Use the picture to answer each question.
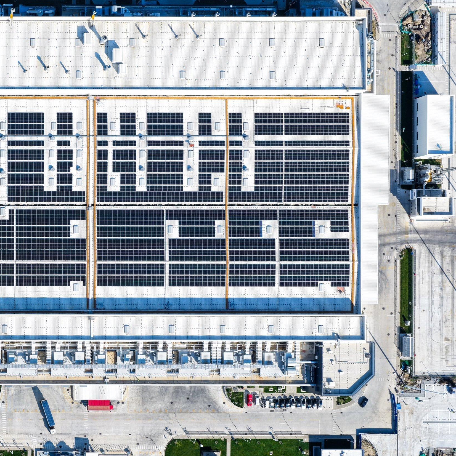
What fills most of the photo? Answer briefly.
buildings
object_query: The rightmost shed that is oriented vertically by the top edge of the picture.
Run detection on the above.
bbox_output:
[430,11,447,67]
